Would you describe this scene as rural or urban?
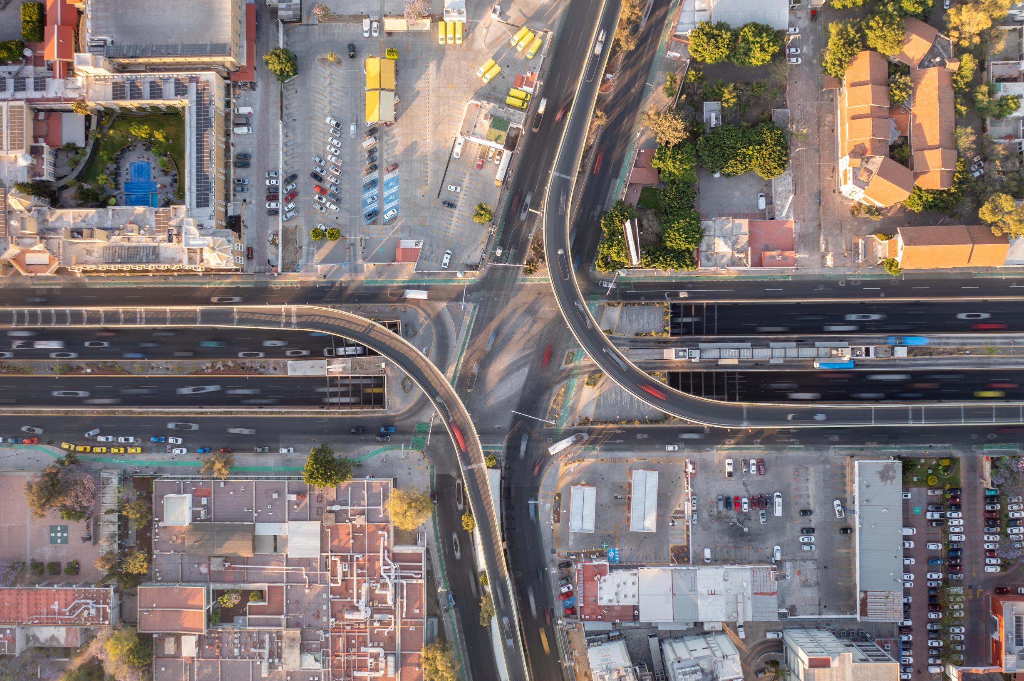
urban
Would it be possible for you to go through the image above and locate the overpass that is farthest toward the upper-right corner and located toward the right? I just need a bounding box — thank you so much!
[544,0,1024,428]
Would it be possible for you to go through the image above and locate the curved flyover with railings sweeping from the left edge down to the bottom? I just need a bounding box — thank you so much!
[0,306,528,681]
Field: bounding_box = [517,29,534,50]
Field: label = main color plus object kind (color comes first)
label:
yellow vehicle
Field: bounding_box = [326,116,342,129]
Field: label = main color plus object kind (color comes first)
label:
white vehicle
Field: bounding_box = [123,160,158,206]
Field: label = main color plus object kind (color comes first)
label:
blue swimming pool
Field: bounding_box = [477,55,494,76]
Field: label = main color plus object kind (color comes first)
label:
yellow vehicle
